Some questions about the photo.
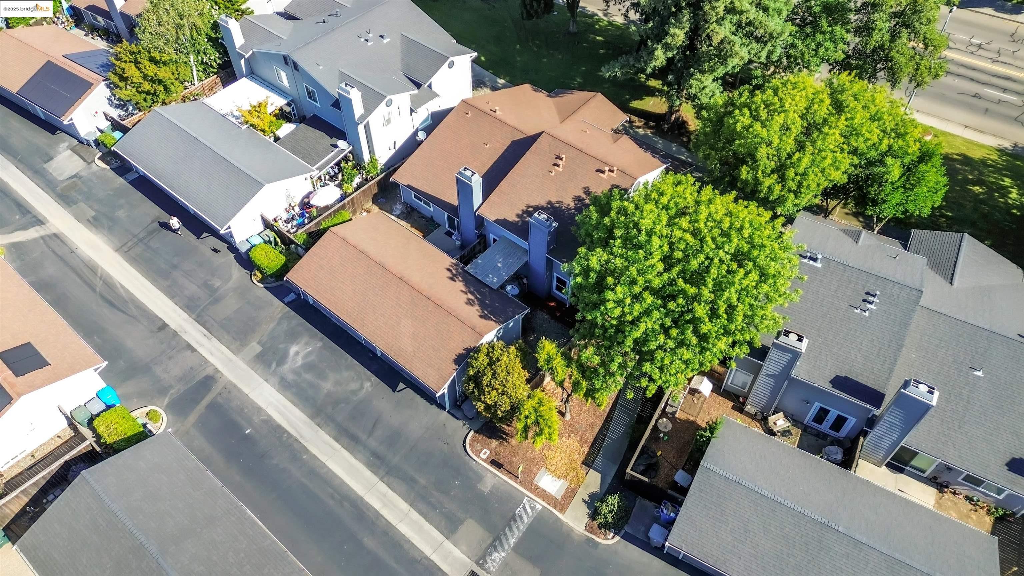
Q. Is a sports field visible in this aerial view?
No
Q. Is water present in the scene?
No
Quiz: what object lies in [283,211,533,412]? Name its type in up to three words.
building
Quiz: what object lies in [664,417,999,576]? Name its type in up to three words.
building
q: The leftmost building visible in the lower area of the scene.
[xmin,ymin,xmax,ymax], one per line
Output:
[0,251,112,470]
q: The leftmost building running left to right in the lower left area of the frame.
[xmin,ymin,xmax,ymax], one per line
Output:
[10,429,314,576]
